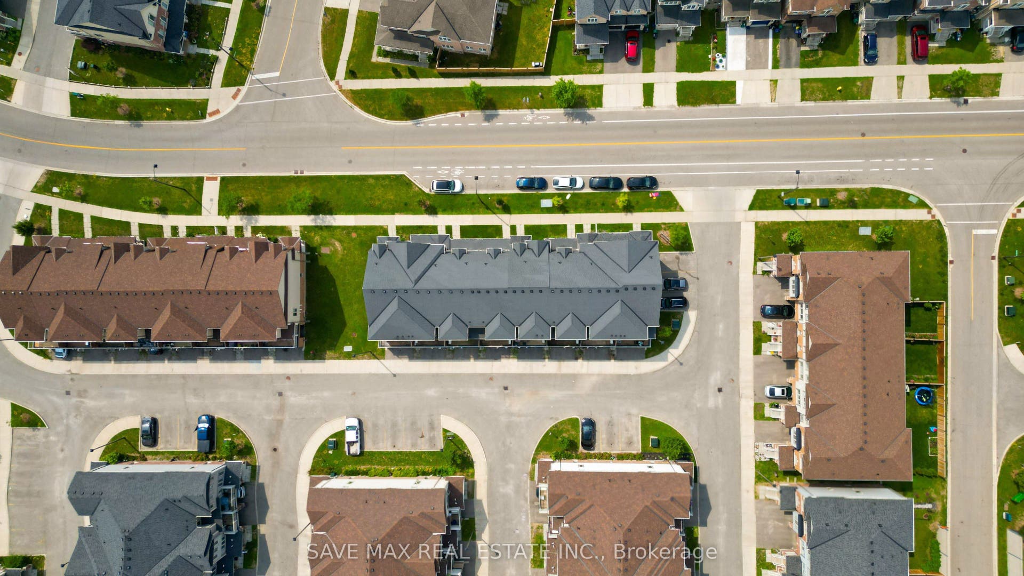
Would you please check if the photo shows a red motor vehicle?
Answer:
Yes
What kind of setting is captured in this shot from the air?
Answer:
residential area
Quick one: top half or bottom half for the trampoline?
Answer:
bottom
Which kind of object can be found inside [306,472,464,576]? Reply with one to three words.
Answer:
building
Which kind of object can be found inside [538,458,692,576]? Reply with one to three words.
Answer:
building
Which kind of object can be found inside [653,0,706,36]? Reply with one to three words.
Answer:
house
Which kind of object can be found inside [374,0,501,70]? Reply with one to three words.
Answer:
house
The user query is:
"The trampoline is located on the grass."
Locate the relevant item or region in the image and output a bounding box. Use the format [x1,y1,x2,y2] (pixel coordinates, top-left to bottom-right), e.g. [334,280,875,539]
[913,387,941,408]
